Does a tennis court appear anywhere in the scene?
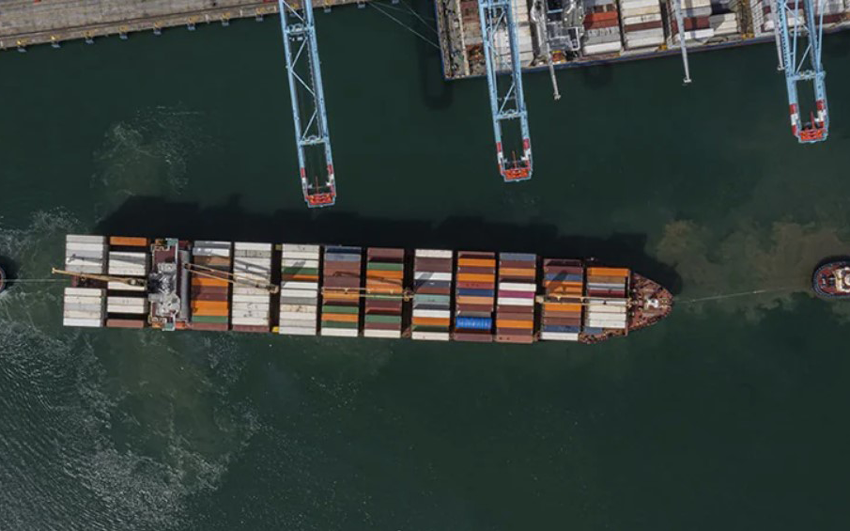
No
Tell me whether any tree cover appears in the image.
No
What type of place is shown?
port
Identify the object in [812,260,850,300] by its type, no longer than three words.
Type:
boat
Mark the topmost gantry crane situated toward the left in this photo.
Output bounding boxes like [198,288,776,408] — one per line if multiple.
[275,0,340,209]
